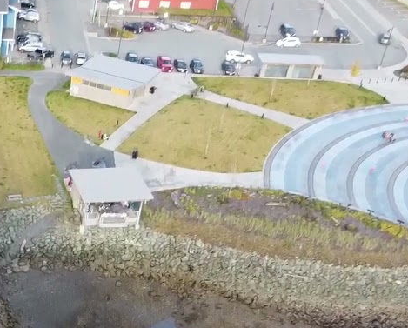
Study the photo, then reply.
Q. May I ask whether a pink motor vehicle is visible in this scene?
Yes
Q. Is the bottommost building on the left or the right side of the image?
left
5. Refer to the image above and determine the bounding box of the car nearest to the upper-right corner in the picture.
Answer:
[376,31,394,46]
